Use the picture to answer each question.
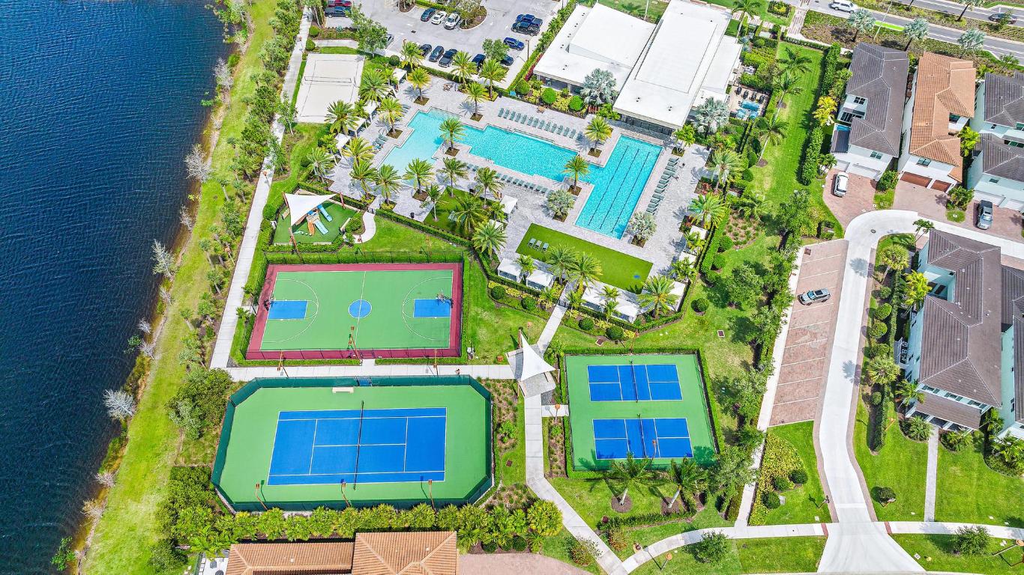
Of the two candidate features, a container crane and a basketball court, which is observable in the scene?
basketball court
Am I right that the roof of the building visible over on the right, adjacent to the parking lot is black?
No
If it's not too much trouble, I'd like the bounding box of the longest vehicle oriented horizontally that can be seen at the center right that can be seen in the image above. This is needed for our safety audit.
[798,287,831,305]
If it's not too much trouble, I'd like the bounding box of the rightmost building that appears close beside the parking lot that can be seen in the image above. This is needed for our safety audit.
[534,0,742,143]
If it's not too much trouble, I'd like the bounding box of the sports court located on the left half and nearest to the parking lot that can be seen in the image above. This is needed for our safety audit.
[295,53,365,122]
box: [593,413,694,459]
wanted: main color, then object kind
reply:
blue sports court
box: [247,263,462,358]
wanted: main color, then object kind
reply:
green basketball court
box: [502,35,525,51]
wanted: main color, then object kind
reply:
blue car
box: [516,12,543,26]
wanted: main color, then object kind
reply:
blue vehicle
